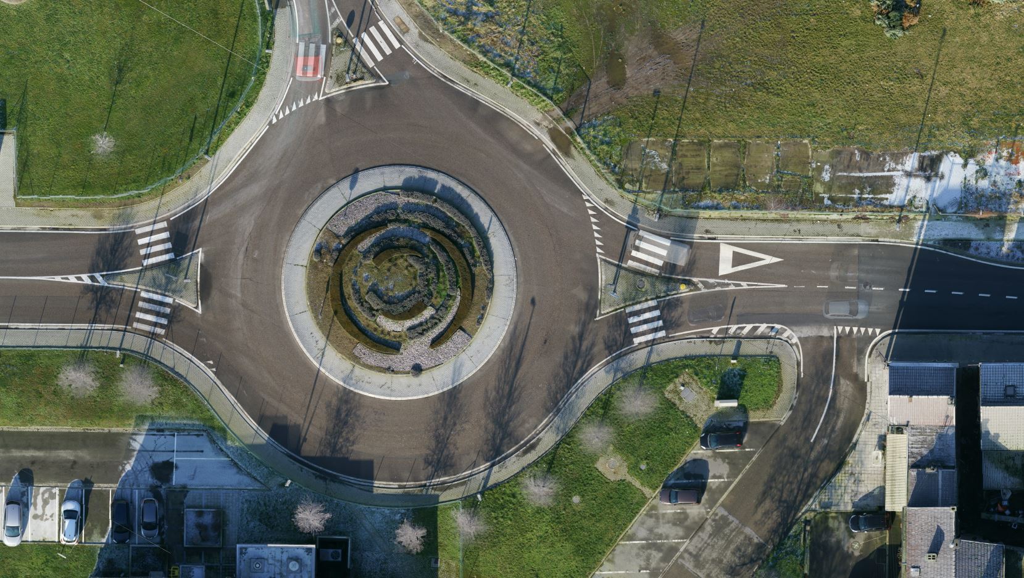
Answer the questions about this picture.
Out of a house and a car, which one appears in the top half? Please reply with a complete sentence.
Visible in the top half is a car.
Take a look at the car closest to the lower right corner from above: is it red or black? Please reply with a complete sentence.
From above, the car closest to the lower right corner appears black.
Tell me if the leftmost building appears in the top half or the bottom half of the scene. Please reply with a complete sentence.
The leftmost building is in the bottom half of the image.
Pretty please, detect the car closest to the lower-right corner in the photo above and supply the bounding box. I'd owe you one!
[849,513,891,534]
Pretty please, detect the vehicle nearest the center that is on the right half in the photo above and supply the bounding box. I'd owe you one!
[657,241,690,266]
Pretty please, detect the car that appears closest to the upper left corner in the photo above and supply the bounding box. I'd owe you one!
[298,50,320,80]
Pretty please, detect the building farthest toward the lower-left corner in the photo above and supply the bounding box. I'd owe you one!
[235,545,316,578]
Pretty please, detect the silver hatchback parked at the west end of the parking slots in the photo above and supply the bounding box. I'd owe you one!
[0,500,23,546]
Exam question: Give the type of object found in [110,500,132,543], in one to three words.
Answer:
car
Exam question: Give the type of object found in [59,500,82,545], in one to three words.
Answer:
car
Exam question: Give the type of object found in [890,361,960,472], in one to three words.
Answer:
house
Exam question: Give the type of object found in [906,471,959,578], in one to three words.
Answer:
house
